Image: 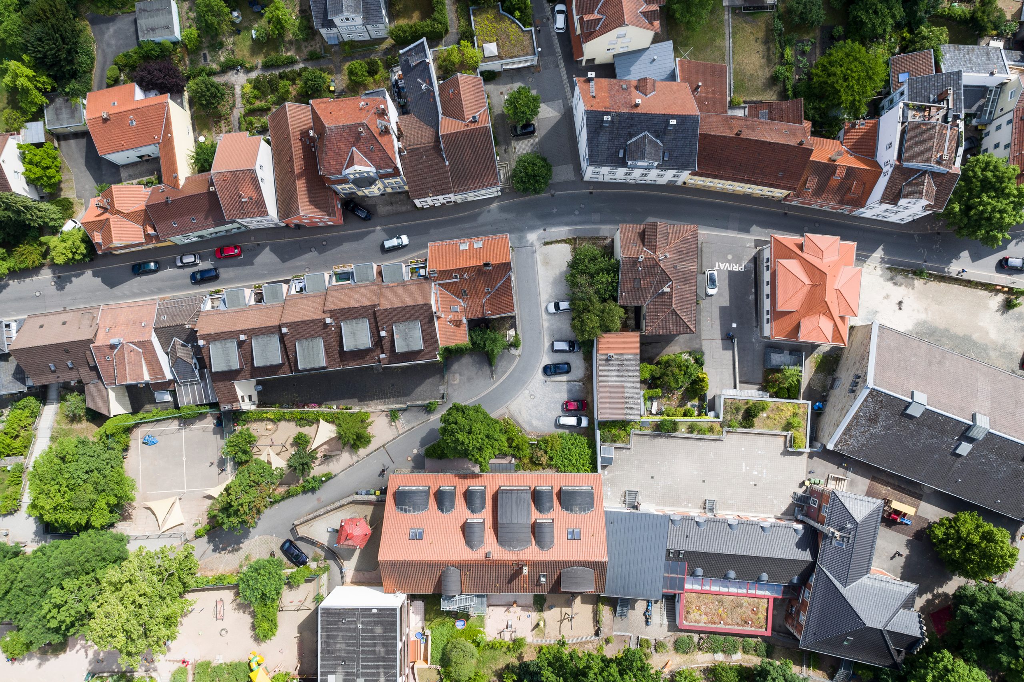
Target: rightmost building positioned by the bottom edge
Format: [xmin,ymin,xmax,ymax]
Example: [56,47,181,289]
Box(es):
[780,482,919,672]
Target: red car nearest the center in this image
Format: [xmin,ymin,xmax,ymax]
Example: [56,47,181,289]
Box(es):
[563,399,587,412]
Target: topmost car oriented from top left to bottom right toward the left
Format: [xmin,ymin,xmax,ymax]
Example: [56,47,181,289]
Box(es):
[343,198,373,222]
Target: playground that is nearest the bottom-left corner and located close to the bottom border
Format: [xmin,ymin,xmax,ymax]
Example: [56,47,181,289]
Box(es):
[0,580,320,682]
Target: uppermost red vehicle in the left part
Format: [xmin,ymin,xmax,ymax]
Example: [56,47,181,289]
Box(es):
[216,245,243,258]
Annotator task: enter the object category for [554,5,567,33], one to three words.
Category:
vehicle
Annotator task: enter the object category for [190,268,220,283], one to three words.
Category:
car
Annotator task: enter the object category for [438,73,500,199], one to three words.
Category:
house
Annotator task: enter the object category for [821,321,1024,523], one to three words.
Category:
building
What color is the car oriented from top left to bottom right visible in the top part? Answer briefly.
black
